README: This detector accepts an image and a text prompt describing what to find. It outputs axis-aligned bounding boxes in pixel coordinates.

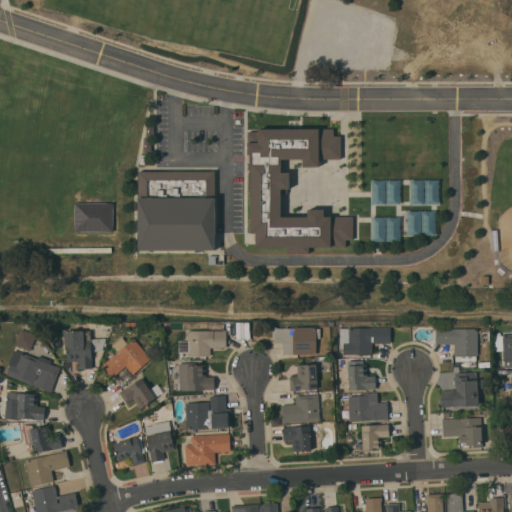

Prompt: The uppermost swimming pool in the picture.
[414,328,435,342]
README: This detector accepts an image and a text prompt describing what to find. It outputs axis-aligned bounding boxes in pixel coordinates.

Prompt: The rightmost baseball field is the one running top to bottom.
[490,138,512,274]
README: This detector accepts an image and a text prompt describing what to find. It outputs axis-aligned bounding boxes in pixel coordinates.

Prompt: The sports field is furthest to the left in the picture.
[0,39,154,252]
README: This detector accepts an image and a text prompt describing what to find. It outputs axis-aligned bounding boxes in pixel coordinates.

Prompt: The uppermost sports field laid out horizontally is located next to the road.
[44,0,296,65]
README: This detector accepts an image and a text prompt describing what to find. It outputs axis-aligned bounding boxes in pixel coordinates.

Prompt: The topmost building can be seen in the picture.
[322,129,342,159]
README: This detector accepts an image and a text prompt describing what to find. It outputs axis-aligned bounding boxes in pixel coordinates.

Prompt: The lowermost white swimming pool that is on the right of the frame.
[321,426,334,448]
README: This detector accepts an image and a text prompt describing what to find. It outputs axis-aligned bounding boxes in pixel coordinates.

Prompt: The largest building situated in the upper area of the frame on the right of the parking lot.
[247,129,331,254]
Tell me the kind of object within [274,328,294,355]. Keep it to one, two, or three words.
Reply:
building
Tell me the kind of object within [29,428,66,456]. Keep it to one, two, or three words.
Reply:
house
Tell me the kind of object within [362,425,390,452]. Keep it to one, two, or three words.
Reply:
house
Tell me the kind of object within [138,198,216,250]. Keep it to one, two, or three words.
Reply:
building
